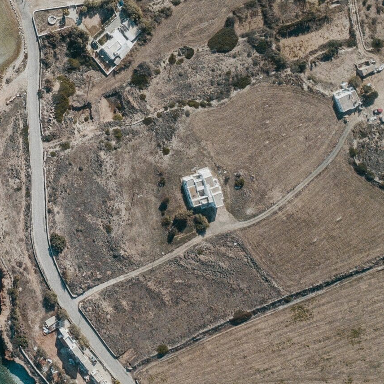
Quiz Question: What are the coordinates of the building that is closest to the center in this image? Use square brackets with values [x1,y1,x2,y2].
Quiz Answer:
[177,164,225,208]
